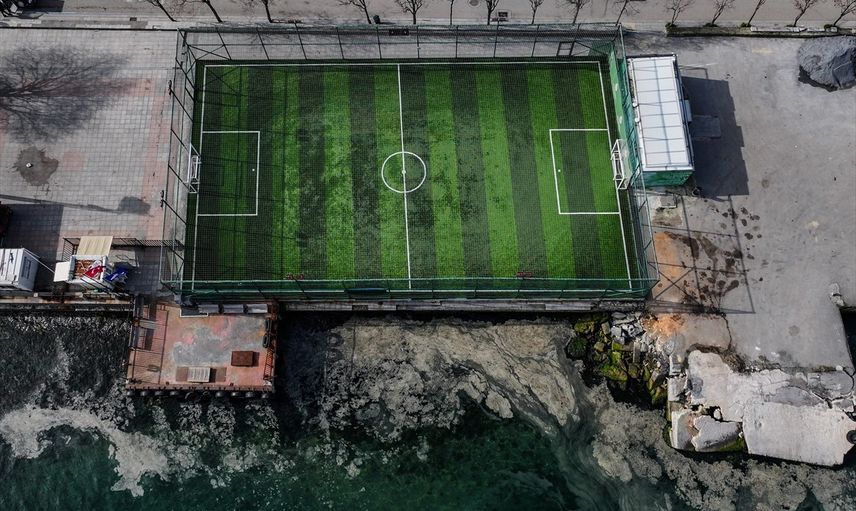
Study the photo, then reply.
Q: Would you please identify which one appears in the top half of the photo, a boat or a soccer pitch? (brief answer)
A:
soccer pitch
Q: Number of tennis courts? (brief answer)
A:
none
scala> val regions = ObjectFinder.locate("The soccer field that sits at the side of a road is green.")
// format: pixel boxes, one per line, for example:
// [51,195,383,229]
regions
[181,56,639,282]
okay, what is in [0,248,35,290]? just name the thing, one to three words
building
